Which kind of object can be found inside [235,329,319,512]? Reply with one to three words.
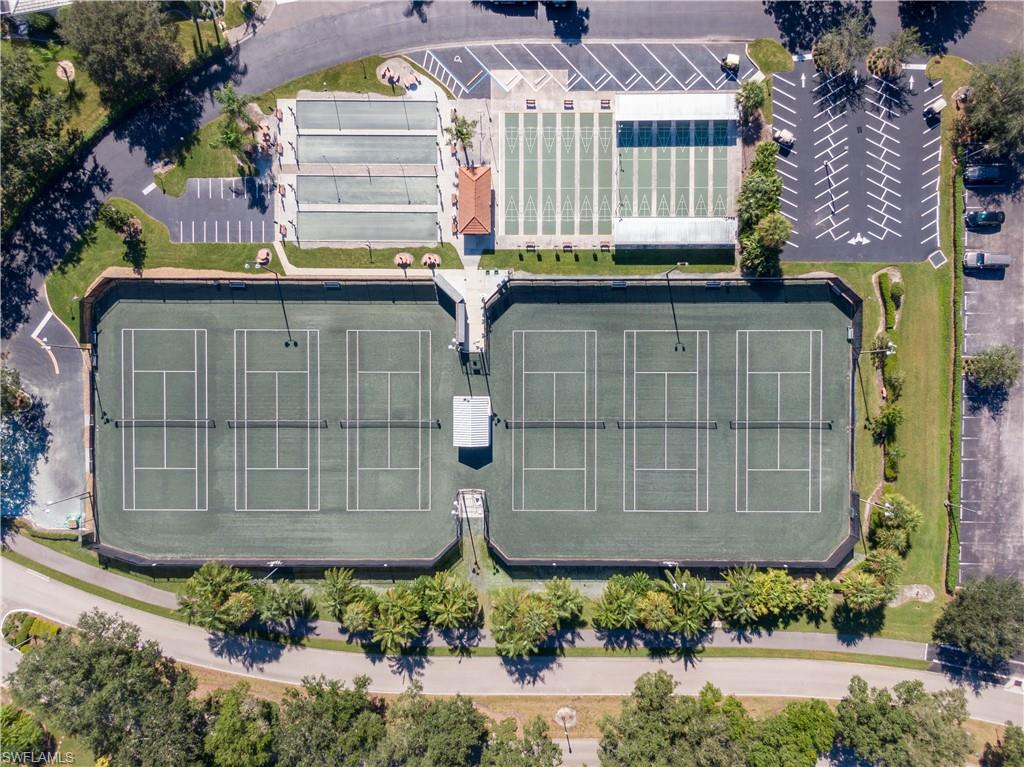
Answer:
tennis court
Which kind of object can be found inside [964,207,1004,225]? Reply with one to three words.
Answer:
car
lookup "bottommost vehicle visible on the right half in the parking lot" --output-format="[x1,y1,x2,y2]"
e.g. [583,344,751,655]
[962,250,1010,269]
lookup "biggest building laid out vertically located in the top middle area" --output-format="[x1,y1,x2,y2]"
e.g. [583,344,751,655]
[458,166,492,234]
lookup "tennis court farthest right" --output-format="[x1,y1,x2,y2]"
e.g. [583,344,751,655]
[736,329,821,512]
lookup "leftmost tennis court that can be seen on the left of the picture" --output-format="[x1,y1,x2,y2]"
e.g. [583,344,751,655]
[123,329,207,512]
